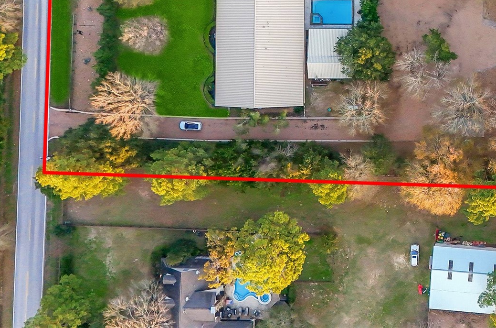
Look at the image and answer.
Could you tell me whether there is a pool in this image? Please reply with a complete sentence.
Yes, you can see a pool in this photo.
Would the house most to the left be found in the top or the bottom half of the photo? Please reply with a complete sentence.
The house most to the left sits in the bottom half of the picture.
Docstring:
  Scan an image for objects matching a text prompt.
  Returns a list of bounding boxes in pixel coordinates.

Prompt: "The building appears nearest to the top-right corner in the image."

[306,29,353,78]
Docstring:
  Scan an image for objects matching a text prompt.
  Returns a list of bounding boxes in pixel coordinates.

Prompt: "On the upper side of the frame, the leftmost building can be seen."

[215,0,305,107]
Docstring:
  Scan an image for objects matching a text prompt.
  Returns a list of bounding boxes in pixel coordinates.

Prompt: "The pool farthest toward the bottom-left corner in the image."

[231,283,258,303]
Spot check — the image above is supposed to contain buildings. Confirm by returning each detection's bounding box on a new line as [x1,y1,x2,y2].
[429,240,496,315]
[215,0,305,107]
[306,29,353,78]
[159,258,254,328]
